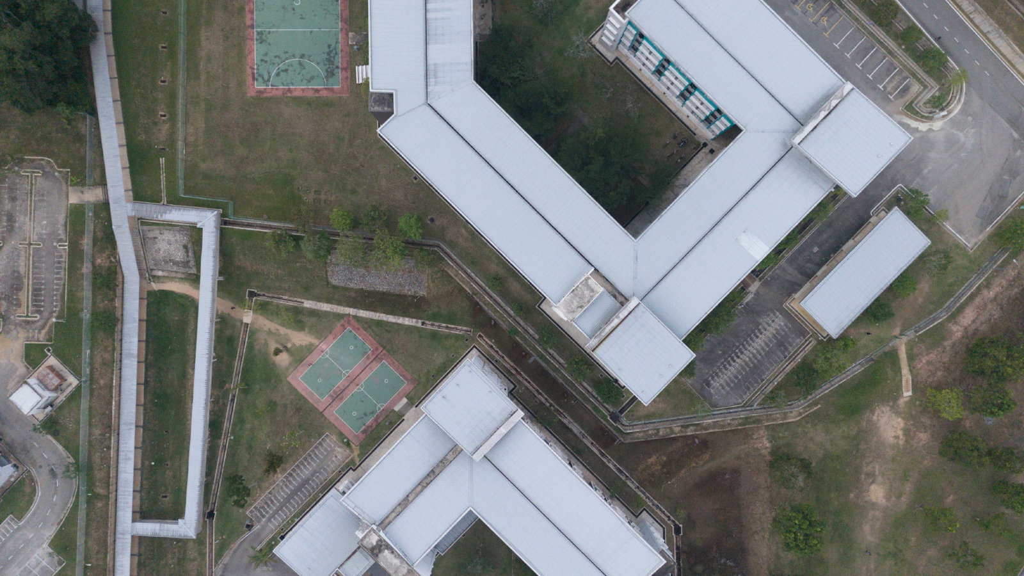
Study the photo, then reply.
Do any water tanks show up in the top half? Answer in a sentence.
No, in the top half there is no water tank.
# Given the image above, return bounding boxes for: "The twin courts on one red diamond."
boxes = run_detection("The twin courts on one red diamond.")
[287,315,418,446]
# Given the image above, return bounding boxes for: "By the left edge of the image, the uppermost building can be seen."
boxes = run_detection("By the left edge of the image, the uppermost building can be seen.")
[9,378,68,416]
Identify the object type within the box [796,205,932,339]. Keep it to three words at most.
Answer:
shed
